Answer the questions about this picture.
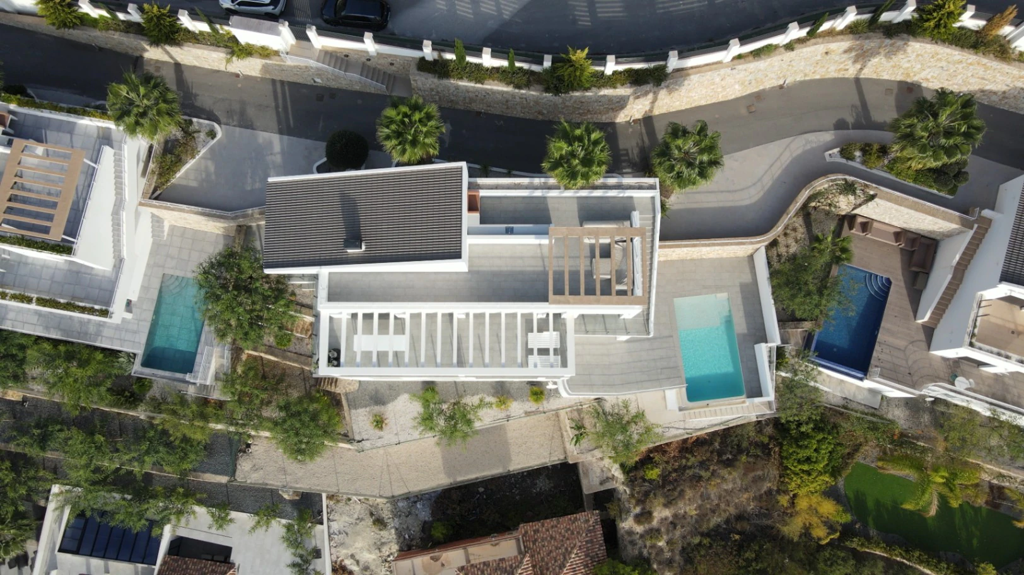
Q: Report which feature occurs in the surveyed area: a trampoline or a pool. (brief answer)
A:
pool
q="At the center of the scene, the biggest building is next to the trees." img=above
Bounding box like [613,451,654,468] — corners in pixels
[264,161,661,381]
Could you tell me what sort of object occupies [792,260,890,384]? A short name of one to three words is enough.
swimming pool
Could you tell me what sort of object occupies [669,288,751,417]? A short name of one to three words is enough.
swimming pool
